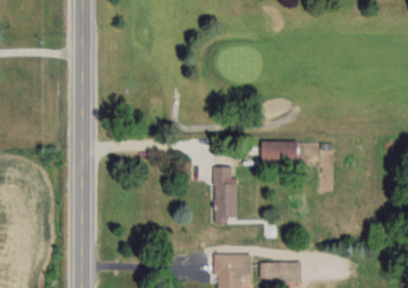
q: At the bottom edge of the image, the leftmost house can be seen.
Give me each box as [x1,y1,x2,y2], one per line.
[213,252,251,288]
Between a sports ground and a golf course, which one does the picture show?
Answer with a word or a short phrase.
golf course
